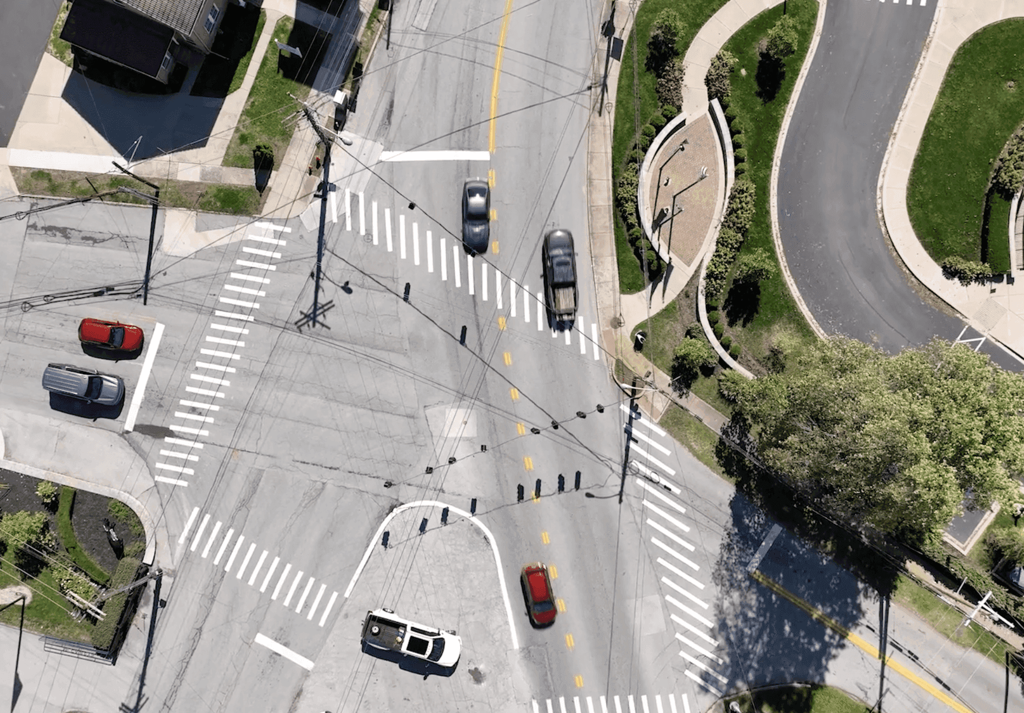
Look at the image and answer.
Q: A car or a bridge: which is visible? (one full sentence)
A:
Visible in the photo is a car.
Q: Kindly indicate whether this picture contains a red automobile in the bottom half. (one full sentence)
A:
Yes, there is a red automobile in the bottom half.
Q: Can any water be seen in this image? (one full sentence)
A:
No, no water is visible.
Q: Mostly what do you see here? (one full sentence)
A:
The largest share of the image is taken up by paved ground.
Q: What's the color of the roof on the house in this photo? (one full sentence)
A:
The roof over the house appears black.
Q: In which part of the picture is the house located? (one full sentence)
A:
The house is in the top left part of the image.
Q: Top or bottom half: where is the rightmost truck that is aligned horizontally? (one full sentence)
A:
It is in the bottom half that the rightmost truck that is aligned horizontally appears.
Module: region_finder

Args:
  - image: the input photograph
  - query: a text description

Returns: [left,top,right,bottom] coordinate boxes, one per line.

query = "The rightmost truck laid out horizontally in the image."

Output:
[362,615,462,671]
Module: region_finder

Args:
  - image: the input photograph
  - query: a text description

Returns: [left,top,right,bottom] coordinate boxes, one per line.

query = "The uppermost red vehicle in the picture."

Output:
[75,316,145,355]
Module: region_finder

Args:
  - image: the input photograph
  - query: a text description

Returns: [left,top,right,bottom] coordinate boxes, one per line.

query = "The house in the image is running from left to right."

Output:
[55,0,232,82]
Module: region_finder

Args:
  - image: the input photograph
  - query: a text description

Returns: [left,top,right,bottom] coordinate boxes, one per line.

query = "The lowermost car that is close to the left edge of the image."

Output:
[40,361,126,407]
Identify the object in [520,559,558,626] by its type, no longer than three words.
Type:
car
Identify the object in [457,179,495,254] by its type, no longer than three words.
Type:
car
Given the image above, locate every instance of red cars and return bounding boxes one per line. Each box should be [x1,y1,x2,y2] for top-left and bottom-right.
[520,559,558,626]
[75,316,145,355]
